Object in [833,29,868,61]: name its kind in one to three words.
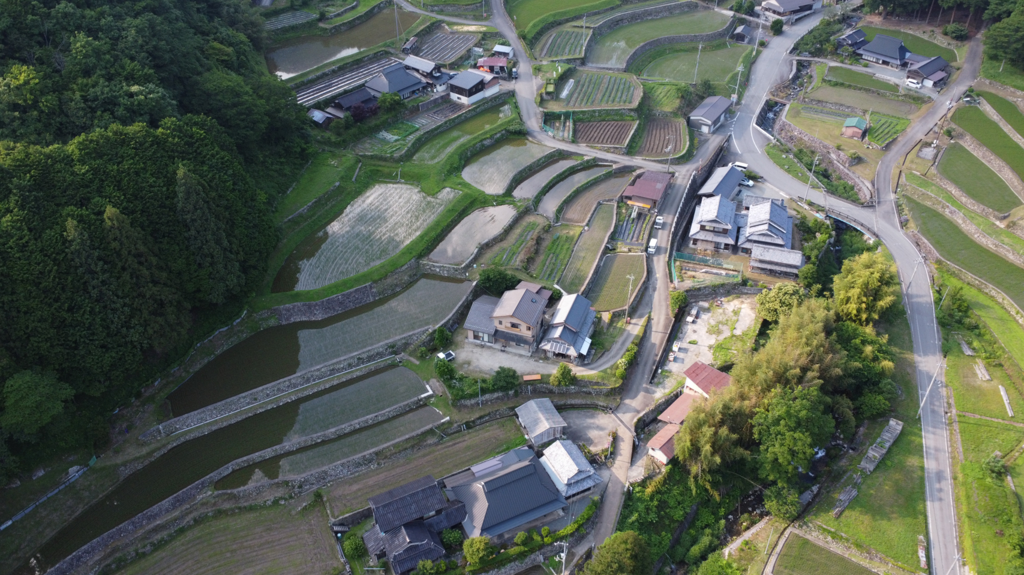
house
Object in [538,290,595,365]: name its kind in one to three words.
building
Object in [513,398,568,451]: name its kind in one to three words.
shed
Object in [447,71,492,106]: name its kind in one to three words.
barn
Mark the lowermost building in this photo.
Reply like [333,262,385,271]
[361,518,446,575]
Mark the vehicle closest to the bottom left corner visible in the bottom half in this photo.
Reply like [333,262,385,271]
[435,349,456,362]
